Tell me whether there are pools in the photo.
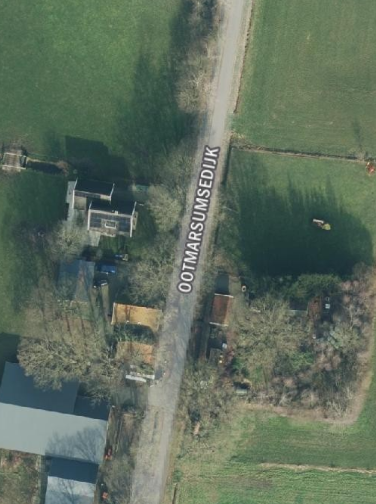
No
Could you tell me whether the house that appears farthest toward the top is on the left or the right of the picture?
left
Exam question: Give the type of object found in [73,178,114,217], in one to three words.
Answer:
house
